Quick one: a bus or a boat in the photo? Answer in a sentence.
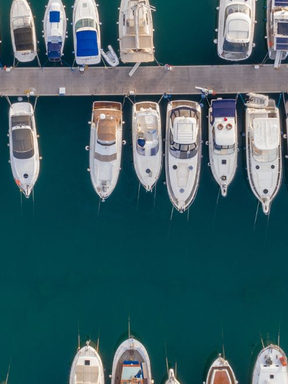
Looking from above, you can make out a boat.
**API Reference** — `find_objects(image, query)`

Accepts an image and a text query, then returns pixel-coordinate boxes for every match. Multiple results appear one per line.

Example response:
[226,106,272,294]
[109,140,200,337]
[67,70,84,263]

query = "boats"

[69,344,105,384]
[72,0,101,65]
[206,357,235,384]
[111,337,151,384]
[244,100,283,216]
[101,43,118,62]
[9,97,39,198]
[43,0,67,60]
[217,0,256,61]
[252,346,288,384]
[209,100,239,198]
[242,92,268,108]
[89,102,123,199]
[163,100,201,212]
[9,0,36,62]
[133,102,163,193]
[264,0,288,59]
[164,366,180,384]
[117,0,154,62]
